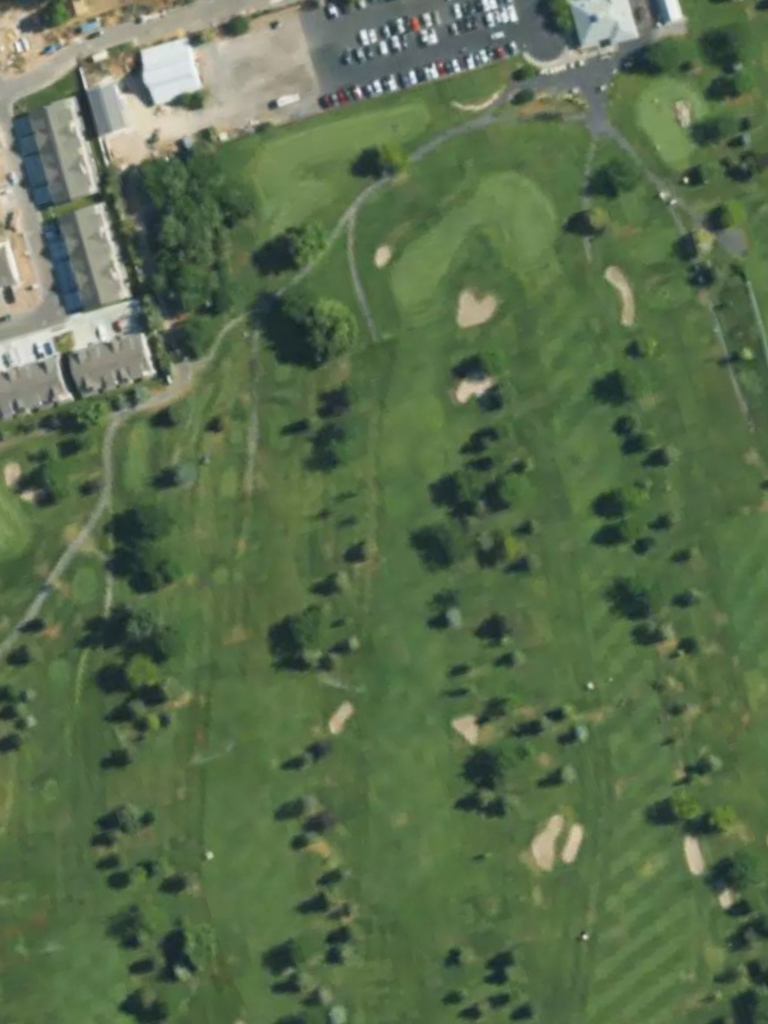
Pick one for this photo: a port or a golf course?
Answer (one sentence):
This looks like a golf course.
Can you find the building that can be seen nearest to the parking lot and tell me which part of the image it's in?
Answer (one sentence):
The building that can be seen nearest to the parking lot appears toward the top right of the photo.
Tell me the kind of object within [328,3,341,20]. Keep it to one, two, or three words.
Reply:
vehicle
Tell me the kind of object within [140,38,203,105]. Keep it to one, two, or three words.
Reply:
building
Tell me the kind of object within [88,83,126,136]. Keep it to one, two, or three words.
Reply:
shed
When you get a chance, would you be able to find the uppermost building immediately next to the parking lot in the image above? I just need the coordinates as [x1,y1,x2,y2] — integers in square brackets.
[573,0,641,54]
